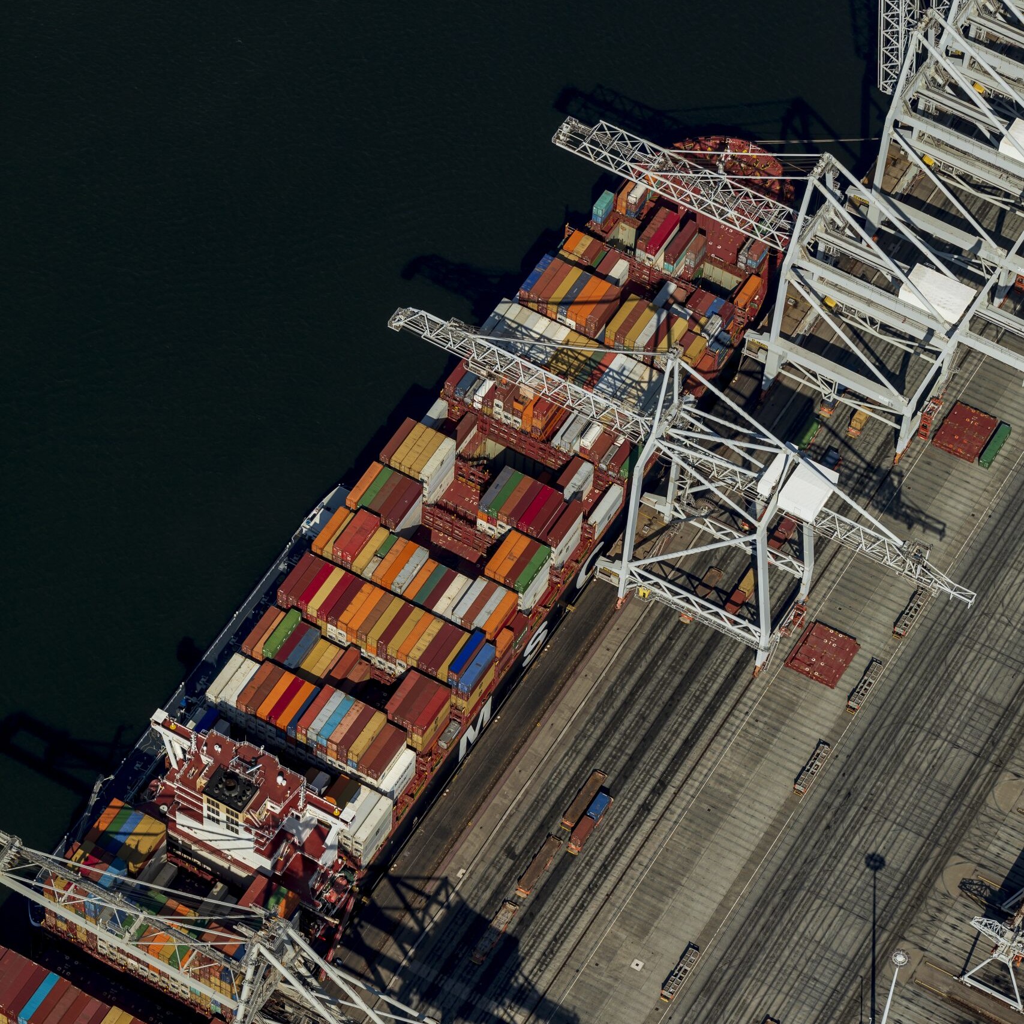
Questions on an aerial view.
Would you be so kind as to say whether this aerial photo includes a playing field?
No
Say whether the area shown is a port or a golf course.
port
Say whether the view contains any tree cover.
No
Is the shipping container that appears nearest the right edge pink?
No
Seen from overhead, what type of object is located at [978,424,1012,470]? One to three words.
shipping container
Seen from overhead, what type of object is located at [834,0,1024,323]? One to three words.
container crane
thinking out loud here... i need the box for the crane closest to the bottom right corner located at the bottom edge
[958,887,1024,1012]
